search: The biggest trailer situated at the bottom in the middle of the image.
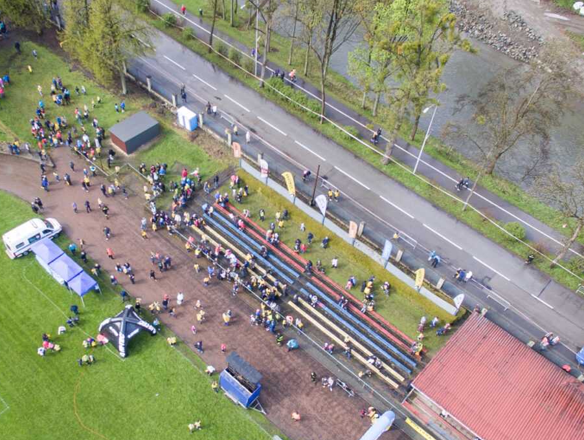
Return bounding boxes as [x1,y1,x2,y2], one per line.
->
[219,355,267,416]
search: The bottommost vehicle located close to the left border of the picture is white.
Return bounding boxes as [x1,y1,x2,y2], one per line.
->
[0,216,61,259]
